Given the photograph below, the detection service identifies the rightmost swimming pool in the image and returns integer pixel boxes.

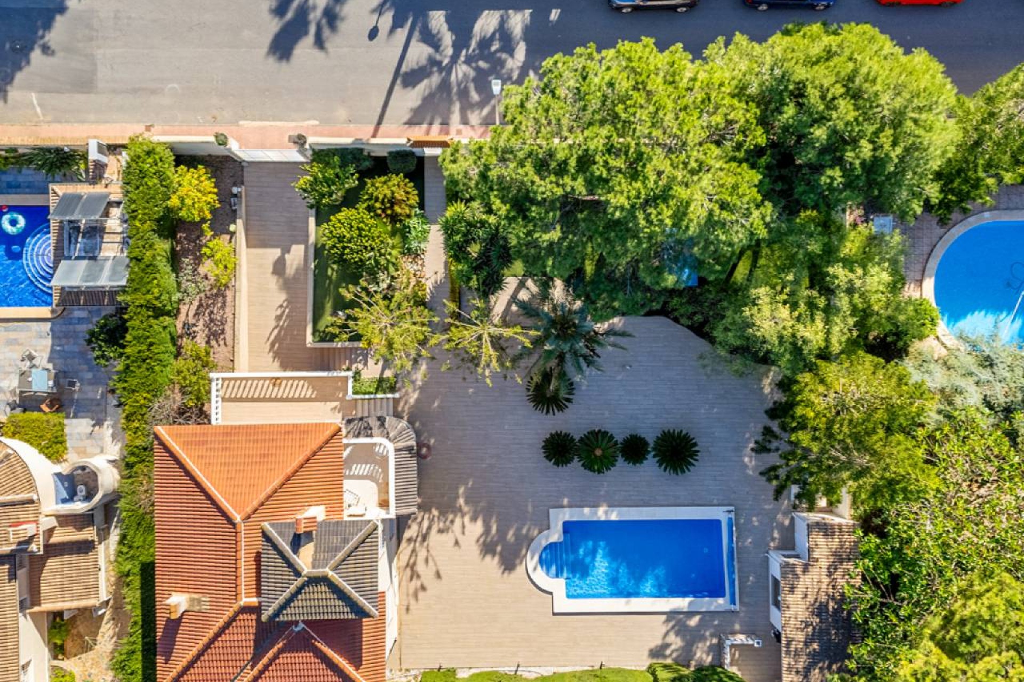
[922,209,1024,356]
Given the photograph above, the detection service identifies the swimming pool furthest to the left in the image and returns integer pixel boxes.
[0,195,64,319]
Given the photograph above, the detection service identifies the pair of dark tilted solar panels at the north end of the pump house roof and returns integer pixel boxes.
[46,192,119,222]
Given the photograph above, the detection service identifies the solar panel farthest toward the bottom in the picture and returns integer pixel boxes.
[49,259,136,286]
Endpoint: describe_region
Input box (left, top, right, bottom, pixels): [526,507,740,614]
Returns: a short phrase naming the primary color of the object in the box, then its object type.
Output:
blue swimming pool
